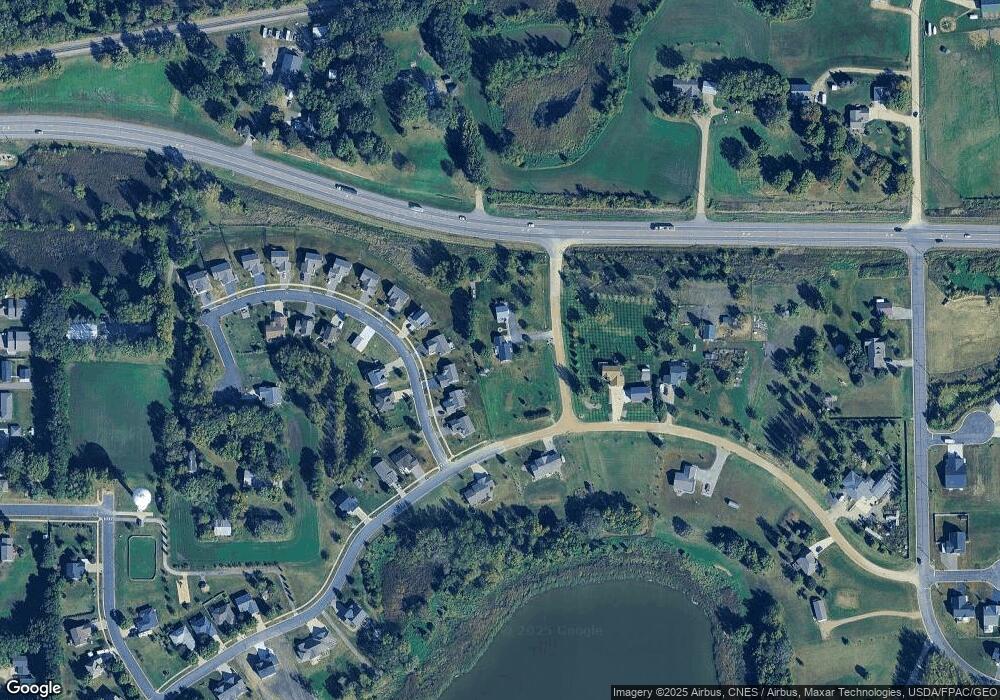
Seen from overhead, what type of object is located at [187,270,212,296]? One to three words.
house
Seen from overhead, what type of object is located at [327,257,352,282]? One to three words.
house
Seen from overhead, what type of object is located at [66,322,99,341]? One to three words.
building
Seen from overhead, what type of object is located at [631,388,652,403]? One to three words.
building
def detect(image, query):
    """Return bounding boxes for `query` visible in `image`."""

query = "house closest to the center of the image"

[495,341,512,361]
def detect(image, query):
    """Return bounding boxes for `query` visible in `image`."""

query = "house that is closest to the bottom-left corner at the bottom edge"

[11,656,30,679]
